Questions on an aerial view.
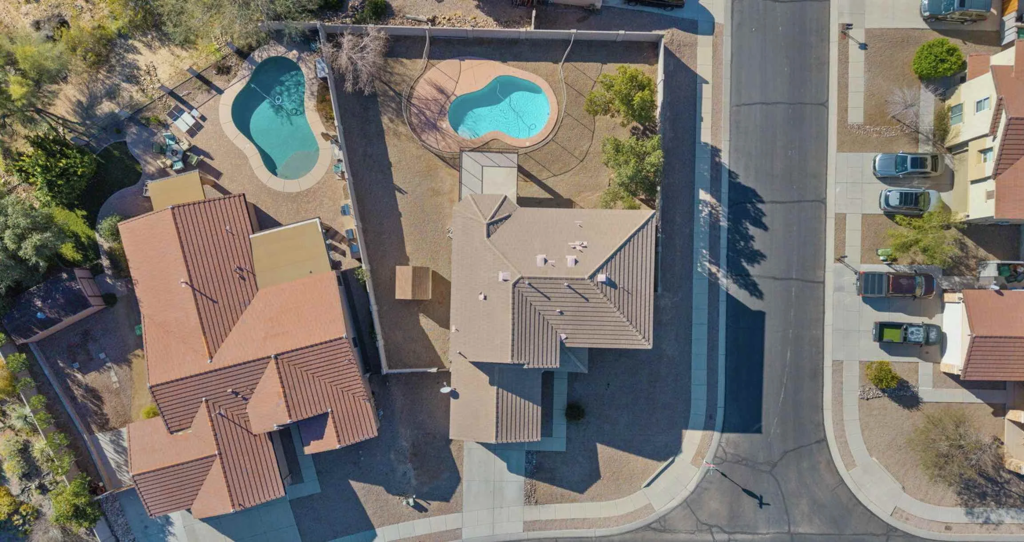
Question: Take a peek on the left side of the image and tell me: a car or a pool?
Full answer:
Visible on the left side of the image is a pool.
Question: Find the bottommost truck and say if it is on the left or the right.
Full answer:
The bottommost truck sits on the right side.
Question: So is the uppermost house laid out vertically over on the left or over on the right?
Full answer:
The uppermost house laid out vertically sits on the right side.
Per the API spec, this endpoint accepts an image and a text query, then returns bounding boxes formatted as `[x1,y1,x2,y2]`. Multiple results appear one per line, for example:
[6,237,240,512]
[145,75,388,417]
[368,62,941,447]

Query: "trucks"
[849,266,936,302]
[865,317,942,349]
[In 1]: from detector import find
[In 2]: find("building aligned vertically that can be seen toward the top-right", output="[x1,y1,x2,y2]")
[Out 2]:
[944,39,1024,222]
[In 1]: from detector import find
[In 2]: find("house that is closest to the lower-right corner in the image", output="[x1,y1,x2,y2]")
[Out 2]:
[940,290,1024,381]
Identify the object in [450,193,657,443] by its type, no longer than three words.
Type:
house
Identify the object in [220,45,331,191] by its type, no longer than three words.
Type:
swimming pool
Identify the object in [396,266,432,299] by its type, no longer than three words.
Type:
shed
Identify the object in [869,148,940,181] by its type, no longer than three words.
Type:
car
